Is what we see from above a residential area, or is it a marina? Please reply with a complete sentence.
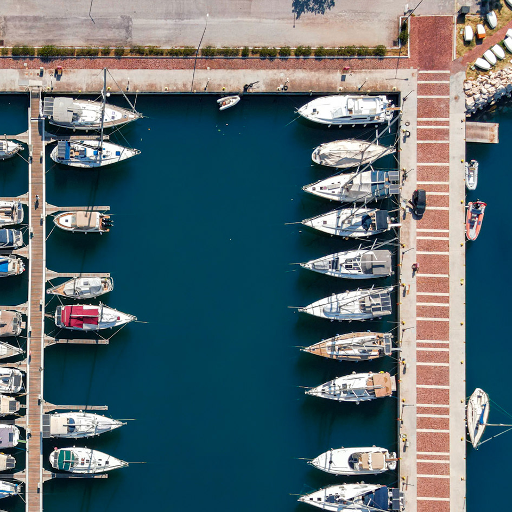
It's a marina.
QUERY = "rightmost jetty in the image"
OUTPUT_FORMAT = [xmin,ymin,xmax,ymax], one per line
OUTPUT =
[466,121,500,144]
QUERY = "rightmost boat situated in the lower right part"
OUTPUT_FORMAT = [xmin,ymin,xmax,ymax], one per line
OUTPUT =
[465,389,512,461]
